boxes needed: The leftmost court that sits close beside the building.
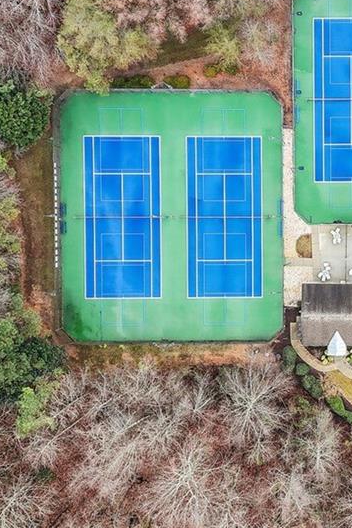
[63,92,282,341]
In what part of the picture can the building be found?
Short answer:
right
